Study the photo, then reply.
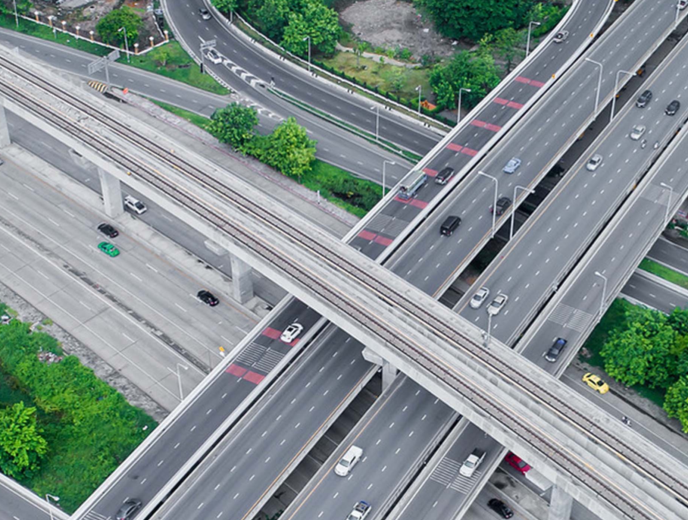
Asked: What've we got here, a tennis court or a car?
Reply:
car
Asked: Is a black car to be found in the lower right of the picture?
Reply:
Yes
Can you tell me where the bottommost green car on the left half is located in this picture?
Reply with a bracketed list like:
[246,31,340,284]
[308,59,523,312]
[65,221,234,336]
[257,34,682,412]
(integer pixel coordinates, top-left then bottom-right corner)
[97,241,120,258]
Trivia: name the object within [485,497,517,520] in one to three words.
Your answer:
car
